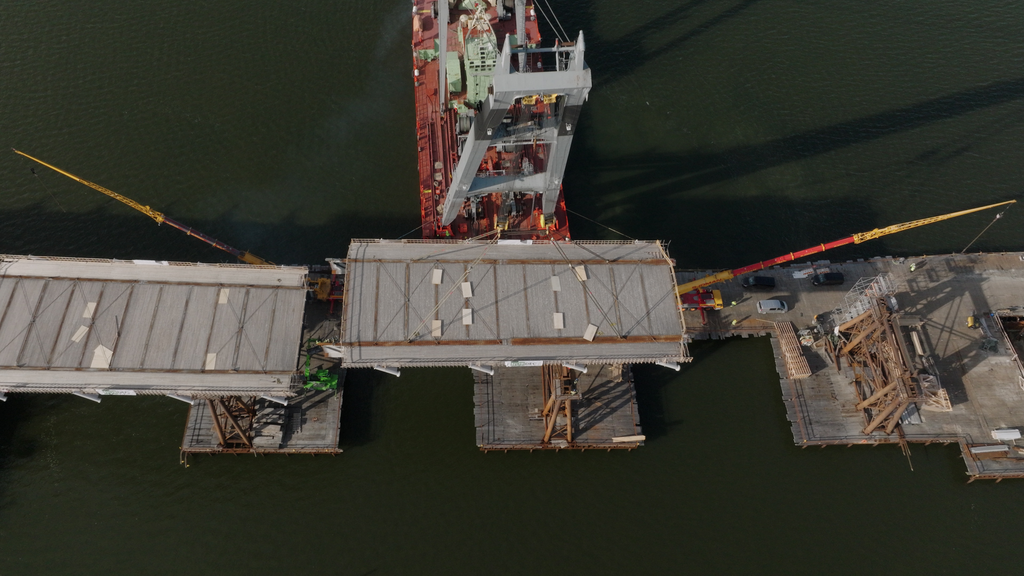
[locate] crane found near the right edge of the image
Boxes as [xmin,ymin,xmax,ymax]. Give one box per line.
[670,200,1017,325]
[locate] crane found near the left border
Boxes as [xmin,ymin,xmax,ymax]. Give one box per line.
[12,149,350,323]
